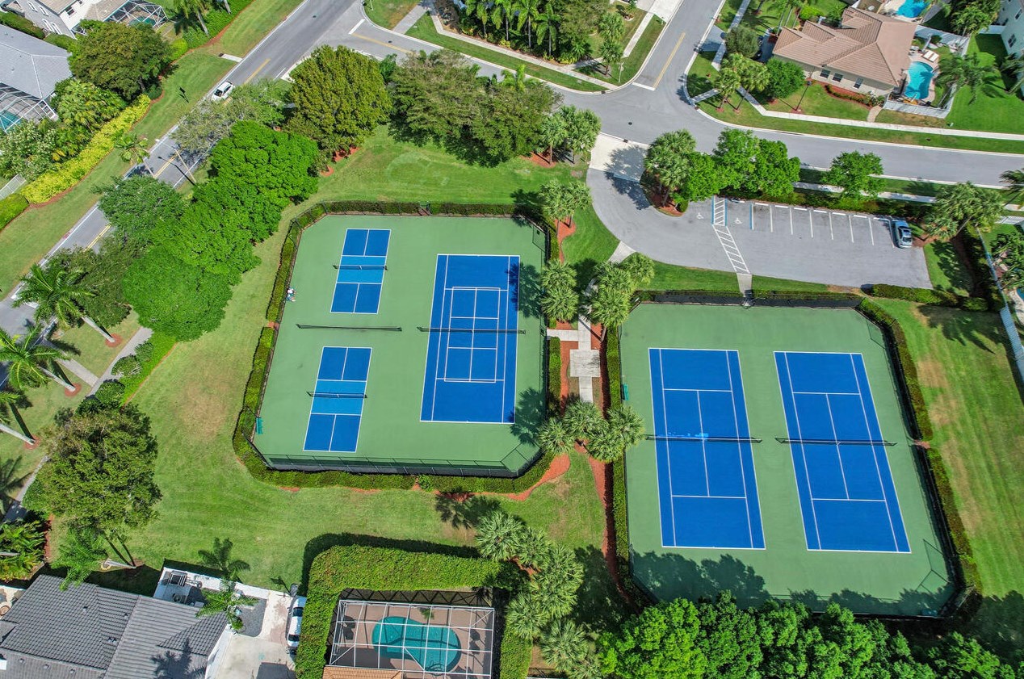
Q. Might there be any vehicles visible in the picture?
Yes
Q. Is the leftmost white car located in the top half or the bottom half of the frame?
top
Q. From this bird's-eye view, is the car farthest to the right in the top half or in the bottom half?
top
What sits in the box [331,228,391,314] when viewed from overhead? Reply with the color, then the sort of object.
blue sports court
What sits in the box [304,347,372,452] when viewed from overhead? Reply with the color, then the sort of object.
blue sports court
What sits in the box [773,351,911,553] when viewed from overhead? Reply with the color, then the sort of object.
blue tennis court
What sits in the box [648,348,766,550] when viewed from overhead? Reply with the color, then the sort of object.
blue tennis court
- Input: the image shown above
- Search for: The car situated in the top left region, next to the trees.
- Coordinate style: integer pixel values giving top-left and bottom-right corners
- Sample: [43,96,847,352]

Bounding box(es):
[207,79,234,105]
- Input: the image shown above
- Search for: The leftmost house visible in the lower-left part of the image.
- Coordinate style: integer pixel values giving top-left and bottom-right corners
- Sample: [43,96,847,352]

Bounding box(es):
[0,575,232,679]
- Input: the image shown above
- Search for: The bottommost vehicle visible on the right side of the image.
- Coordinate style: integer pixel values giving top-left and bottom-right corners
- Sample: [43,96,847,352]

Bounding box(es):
[889,220,915,250]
